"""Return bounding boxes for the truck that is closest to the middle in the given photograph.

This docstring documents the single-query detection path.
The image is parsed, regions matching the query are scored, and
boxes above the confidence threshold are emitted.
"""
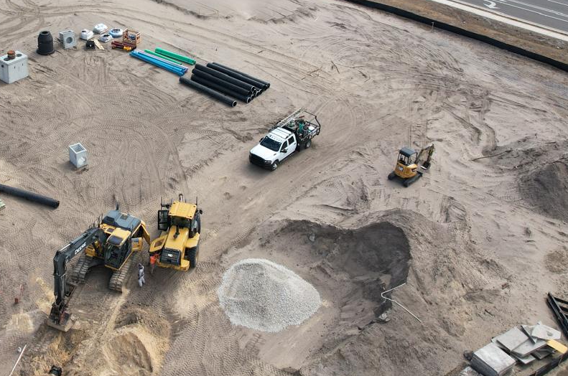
[246,109,320,168]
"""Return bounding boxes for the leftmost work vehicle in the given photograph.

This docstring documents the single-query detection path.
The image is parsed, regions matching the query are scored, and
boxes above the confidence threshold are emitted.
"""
[45,211,150,319]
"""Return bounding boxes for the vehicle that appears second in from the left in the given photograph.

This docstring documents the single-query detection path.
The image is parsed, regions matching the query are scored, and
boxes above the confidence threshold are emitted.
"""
[149,198,211,276]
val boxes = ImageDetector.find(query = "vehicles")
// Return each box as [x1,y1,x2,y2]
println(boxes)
[45,211,150,319]
[246,109,320,168]
[387,140,429,185]
[149,198,211,276]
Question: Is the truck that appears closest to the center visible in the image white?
Yes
